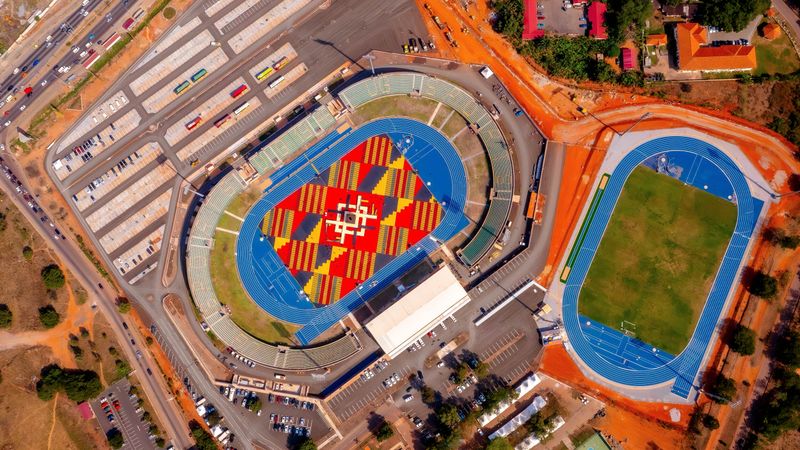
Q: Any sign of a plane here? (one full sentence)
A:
No, there's no plane here.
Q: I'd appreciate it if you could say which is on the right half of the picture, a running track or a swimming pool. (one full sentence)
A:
You can see a running track on the right half of the picture.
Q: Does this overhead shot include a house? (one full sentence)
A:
Yes, a house appears in the view.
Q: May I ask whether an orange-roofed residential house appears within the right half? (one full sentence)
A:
Yes, looking within the right half, one can make out an orange-roofed residential house.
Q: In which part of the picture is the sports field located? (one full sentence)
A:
The sports field is located in the right region of the scene.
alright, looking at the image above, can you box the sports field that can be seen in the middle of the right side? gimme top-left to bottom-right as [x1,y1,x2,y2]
[579,164,738,356]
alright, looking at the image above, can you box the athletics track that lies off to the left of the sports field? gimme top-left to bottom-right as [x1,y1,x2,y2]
[236,116,470,348]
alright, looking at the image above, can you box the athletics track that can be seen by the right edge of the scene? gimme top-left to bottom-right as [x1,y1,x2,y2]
[562,136,765,400]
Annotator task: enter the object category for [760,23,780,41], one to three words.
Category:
gazebo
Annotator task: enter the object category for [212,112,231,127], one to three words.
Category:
vehicle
